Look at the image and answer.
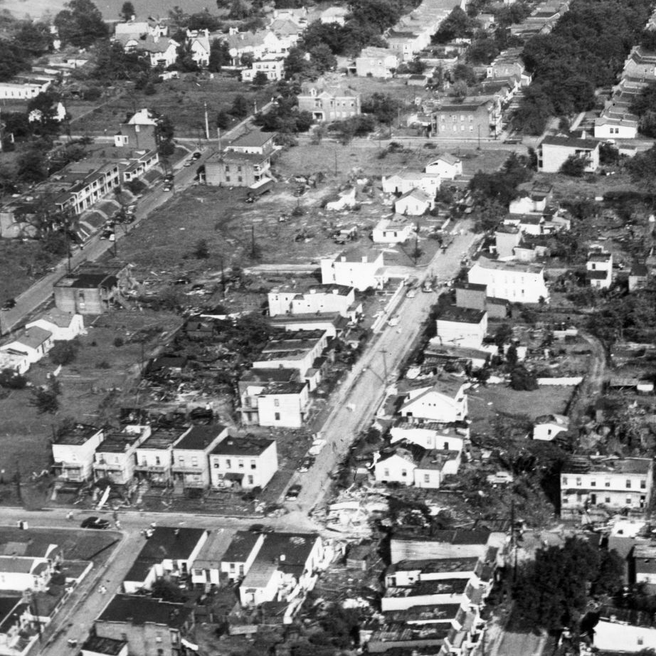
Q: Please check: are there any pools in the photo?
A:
No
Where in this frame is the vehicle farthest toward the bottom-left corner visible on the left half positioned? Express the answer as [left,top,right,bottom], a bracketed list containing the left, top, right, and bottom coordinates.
[81,516,110,528]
